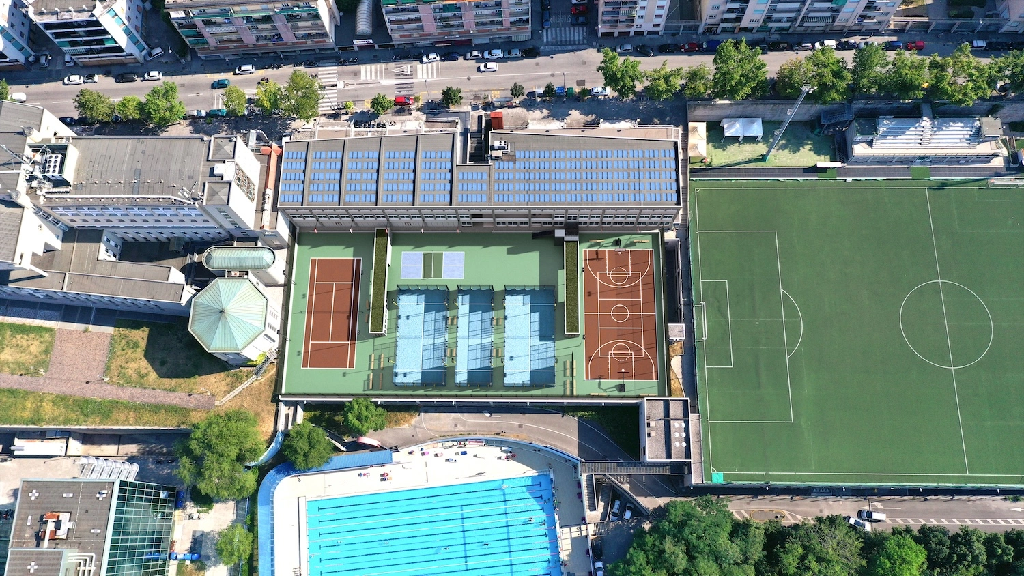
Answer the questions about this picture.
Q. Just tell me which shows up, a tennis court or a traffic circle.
tennis court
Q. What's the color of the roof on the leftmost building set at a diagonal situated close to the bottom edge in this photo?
blue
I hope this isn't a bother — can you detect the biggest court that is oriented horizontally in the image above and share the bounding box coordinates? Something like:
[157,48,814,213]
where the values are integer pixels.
[401,250,465,280]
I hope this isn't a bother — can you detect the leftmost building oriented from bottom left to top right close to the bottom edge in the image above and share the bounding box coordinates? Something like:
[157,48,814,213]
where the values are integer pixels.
[258,450,394,576]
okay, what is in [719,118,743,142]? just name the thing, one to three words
tent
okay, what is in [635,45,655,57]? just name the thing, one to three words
vehicle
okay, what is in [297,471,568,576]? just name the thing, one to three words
swimming pool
